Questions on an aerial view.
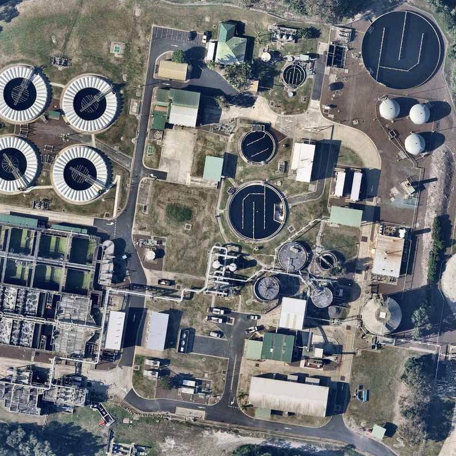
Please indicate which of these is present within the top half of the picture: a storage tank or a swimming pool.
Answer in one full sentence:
What appears within the top half of the picture is a storage tank.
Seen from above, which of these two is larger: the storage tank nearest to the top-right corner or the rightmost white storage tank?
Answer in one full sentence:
The storage tank nearest to the top-right corner takes up more space than the rightmost white storage tank does.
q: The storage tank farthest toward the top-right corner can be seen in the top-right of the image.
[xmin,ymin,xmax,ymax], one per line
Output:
[360,8,445,92]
